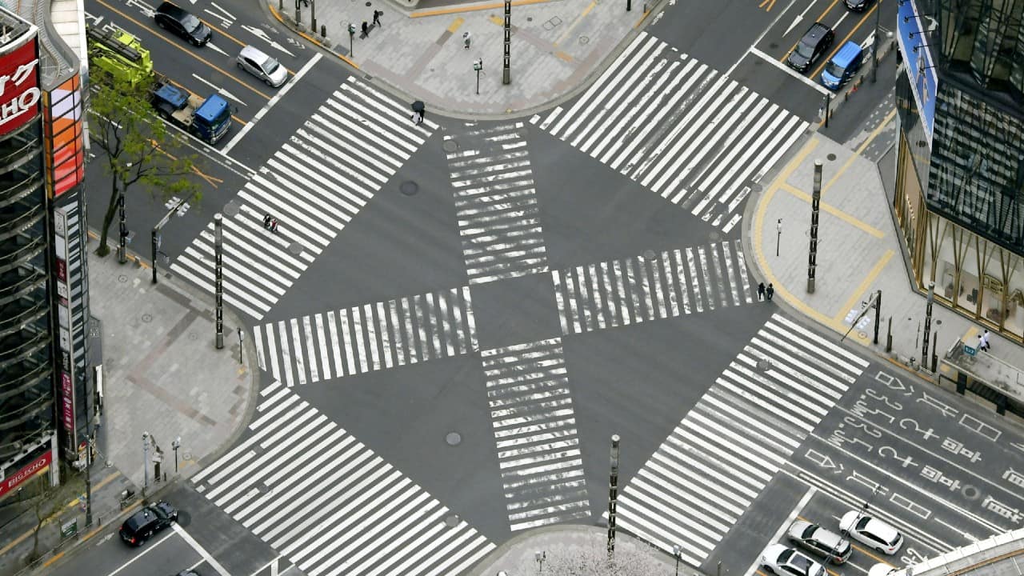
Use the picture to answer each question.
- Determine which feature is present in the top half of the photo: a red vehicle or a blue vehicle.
blue vehicle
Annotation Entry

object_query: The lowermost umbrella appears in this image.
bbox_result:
[411,103,427,117]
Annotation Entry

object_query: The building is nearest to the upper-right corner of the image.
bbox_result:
[877,0,1024,344]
